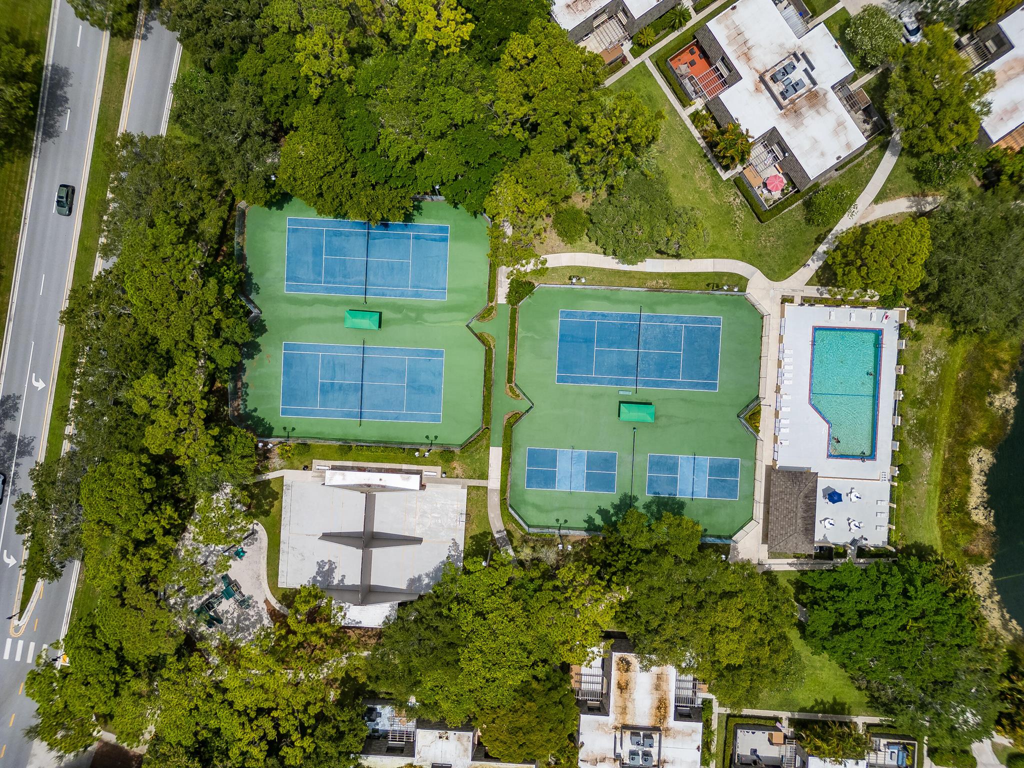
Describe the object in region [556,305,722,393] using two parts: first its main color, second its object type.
blue tennis court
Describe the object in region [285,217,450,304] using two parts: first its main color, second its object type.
blue tennis court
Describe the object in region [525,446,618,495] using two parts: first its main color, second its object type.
blue sports court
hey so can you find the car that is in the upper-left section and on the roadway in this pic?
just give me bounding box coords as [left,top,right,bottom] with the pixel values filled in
[55,183,75,217]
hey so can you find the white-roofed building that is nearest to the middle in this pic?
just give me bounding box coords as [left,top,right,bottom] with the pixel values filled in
[326,469,422,488]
